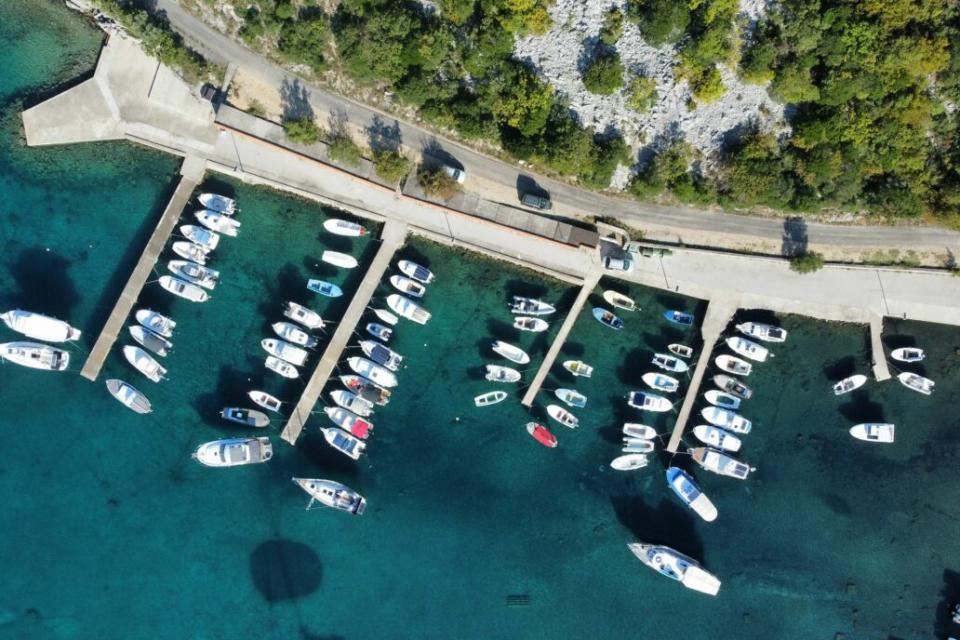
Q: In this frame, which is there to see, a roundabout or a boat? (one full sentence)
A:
Visible in the photo is a boat.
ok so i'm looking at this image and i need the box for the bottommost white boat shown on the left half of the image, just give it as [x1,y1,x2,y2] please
[289,479,369,517]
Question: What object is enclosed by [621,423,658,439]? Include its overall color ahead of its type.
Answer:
white boat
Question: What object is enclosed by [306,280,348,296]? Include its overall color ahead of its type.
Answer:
blue boat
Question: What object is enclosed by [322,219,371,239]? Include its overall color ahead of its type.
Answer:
white boat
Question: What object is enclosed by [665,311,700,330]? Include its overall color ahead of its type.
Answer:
blue boat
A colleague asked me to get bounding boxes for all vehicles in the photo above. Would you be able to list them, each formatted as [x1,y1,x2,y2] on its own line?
[520,192,553,213]
[603,257,634,273]
[437,163,467,186]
